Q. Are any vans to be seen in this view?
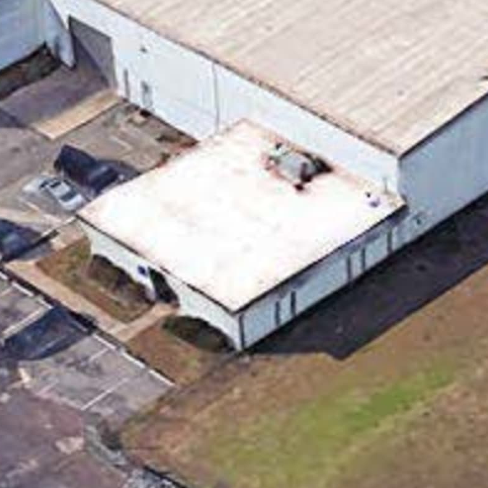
Yes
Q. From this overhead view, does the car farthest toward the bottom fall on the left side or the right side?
left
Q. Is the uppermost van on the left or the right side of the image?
left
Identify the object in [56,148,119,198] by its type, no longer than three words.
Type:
van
